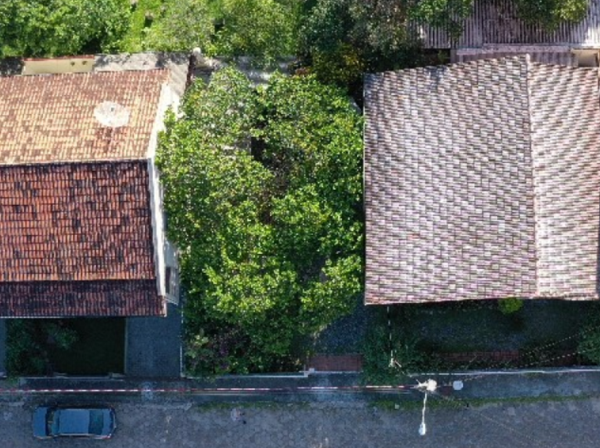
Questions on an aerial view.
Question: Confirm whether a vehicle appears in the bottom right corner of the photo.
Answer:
No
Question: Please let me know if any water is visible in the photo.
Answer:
No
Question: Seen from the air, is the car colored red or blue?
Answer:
blue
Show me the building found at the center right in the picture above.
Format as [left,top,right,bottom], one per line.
[363,54,600,305]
